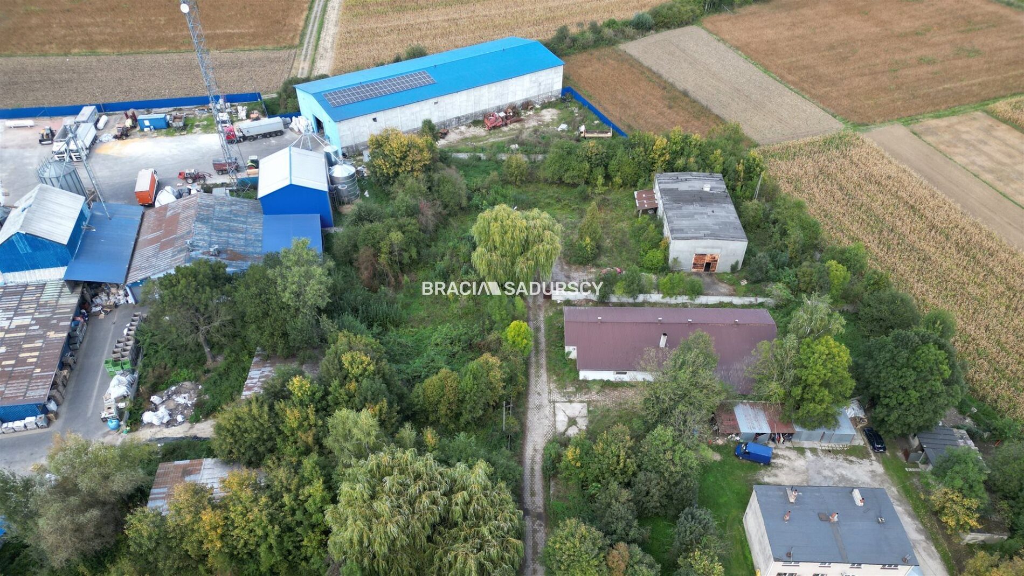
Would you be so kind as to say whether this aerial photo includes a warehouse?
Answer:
Yes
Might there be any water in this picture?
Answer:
No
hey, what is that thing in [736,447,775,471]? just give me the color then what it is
blue vehicle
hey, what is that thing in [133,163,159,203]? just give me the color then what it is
white truck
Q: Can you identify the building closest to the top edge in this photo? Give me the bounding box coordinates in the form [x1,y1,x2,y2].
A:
[288,40,567,154]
